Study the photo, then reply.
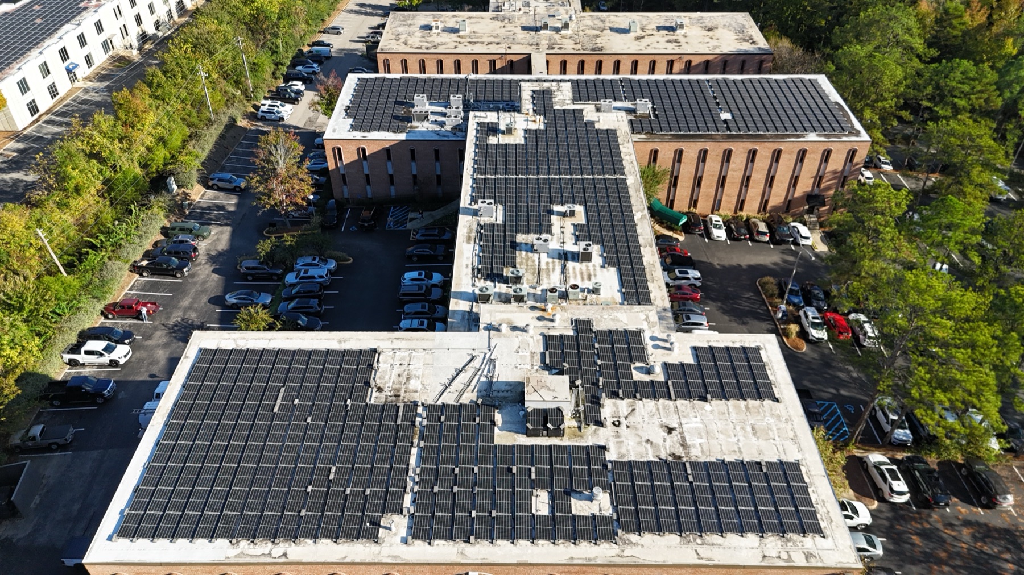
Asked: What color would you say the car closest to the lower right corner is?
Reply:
black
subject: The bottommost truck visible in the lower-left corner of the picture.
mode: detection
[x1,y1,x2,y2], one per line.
[60,534,98,566]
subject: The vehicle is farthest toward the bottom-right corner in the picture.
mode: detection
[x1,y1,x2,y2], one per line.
[959,459,1018,512]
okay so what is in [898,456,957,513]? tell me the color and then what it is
black car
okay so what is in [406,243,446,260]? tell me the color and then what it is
black car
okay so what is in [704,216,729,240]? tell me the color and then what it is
white car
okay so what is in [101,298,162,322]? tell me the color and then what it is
red truck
